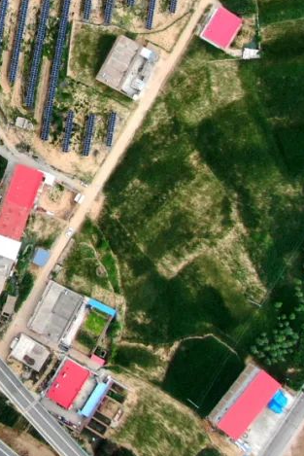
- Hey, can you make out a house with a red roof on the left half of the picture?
Yes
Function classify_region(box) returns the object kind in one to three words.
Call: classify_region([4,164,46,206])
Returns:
building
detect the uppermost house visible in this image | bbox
[198,6,242,48]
